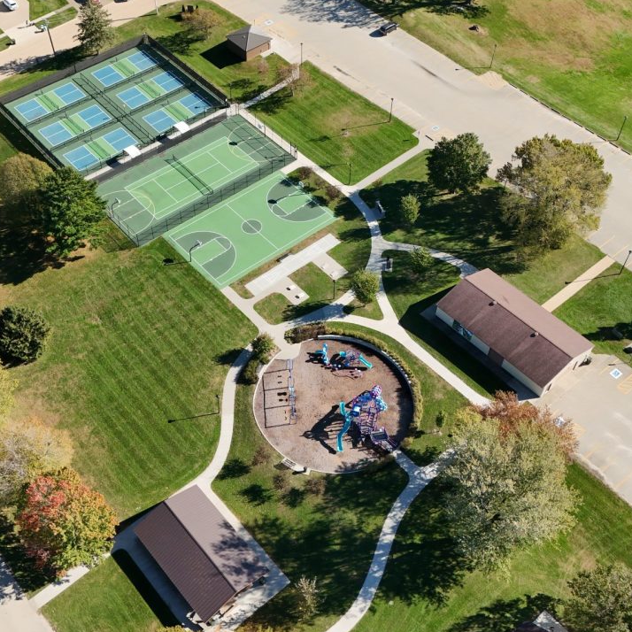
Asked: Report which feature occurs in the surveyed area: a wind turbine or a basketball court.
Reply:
basketball court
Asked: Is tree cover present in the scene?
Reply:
Yes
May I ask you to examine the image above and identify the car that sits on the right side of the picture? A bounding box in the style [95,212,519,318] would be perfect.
[377,21,400,33]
